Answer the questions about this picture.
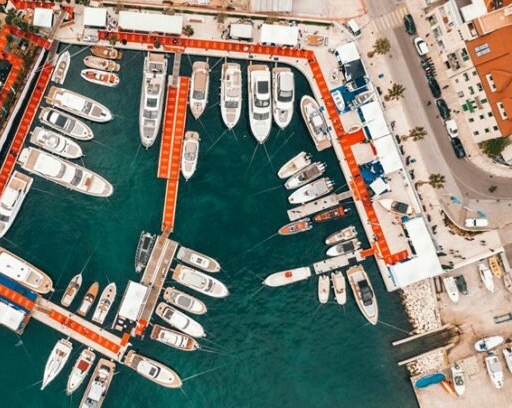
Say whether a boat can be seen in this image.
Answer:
Yes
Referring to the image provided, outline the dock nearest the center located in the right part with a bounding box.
[287,196,341,222]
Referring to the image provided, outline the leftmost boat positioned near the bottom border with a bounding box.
[34,333,71,394]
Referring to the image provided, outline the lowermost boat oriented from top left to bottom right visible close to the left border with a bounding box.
[0,250,53,301]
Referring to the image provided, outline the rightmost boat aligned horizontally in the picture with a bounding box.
[472,336,505,351]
